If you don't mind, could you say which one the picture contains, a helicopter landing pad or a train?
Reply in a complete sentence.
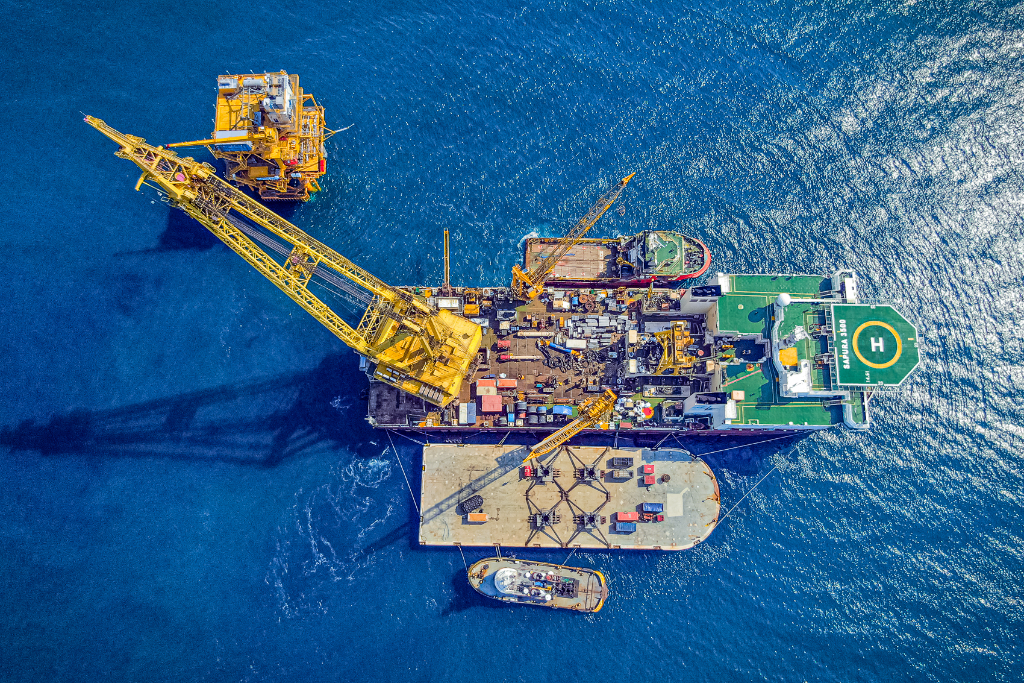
The image shows a helicopter landing pad.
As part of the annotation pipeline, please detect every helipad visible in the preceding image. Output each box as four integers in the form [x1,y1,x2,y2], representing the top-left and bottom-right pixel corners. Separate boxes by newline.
[826,299,928,398]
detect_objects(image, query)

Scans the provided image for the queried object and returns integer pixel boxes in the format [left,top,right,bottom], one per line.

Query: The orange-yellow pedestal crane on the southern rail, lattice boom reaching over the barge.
[521,385,617,465]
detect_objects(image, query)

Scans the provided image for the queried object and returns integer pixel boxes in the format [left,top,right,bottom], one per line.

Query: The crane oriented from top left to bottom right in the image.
[80,109,483,407]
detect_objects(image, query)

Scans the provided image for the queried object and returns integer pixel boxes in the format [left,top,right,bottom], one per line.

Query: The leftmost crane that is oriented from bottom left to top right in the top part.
[515,172,637,305]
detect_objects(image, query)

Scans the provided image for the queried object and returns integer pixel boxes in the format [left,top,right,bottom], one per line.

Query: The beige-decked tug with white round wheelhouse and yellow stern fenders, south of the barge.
[467,552,608,615]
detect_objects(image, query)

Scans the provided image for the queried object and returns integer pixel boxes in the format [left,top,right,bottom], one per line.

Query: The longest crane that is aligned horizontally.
[165,126,288,165]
